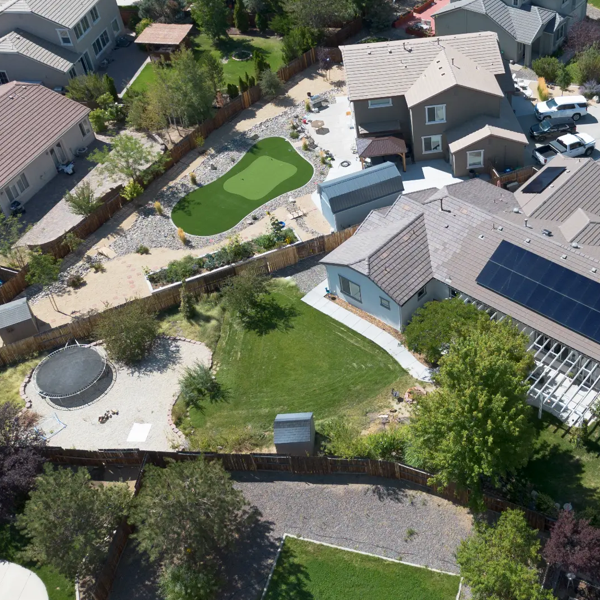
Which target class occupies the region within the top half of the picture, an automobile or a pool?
automobile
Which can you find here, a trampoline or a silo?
trampoline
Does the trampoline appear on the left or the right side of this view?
left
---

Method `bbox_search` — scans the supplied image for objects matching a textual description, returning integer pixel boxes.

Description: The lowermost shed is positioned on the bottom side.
[272,412,320,465]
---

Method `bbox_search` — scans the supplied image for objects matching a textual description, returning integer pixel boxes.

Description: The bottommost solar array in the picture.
[476,240,600,343]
